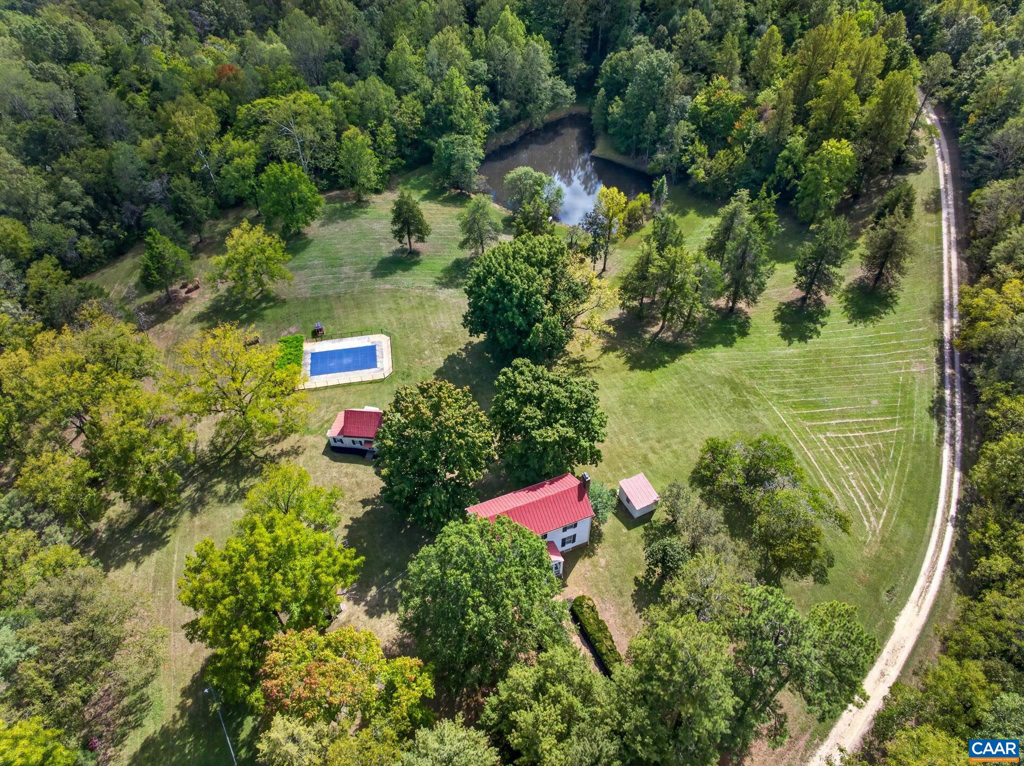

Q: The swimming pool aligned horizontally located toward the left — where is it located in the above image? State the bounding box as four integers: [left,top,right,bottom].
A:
[296,334,393,390]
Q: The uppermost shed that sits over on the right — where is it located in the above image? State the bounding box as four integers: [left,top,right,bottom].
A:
[618,471,660,518]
